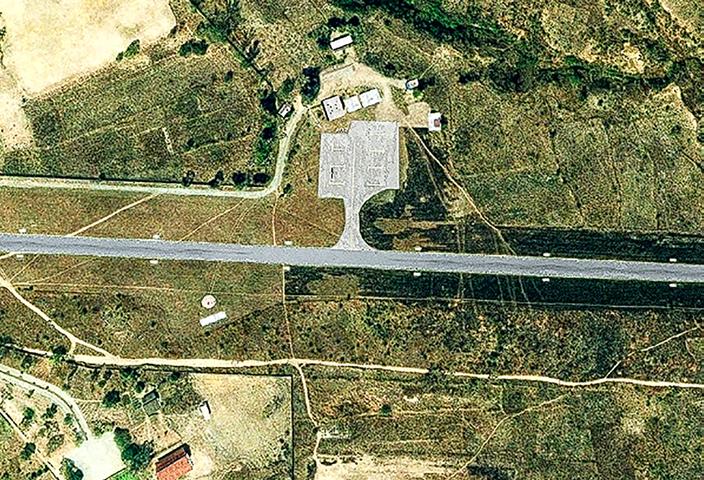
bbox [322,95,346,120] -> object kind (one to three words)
building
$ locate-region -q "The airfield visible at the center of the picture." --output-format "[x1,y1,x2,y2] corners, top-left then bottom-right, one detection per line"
[0,121,704,283]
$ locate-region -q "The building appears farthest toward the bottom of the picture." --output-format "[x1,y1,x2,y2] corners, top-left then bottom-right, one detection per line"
[152,448,193,480]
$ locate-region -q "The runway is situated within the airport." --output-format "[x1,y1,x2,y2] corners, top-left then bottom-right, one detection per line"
[0,234,704,283]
